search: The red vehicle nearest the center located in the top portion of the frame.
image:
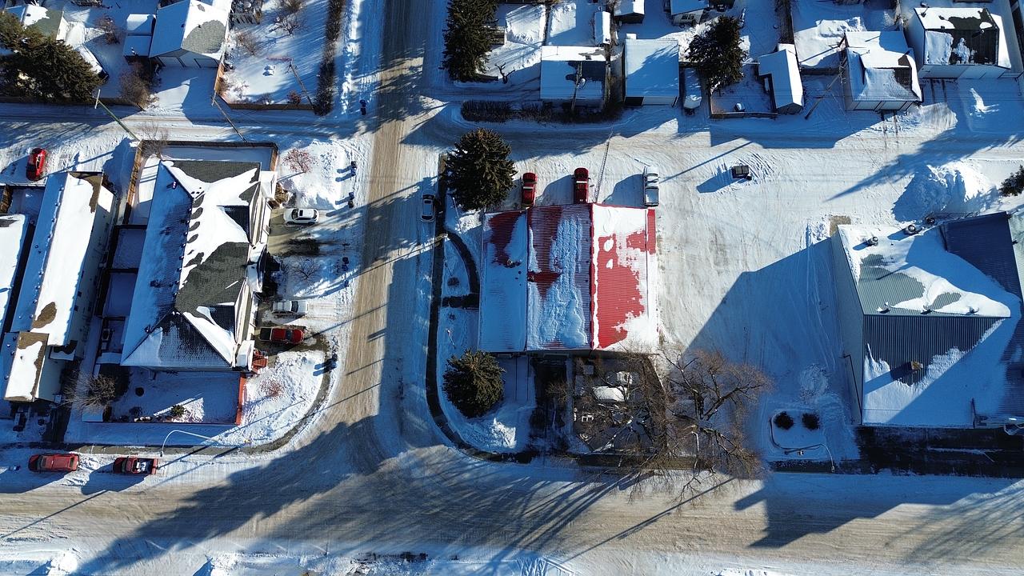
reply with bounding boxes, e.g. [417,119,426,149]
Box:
[520,171,538,208]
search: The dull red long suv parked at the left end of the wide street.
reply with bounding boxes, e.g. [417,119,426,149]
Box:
[31,452,81,474]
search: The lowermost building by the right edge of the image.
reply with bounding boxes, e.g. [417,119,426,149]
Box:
[823,207,1024,430]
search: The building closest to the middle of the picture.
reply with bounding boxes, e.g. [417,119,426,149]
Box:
[480,199,665,378]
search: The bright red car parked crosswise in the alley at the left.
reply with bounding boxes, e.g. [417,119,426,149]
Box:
[24,150,50,182]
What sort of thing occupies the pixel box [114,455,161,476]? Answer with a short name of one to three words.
truck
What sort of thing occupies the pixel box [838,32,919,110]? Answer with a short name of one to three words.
building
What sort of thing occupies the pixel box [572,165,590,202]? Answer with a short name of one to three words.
vehicle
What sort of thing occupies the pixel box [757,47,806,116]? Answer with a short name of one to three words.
shed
